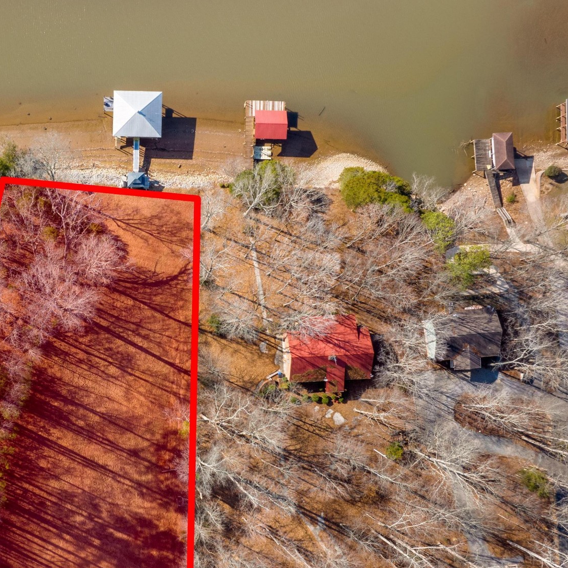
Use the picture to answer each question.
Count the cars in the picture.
0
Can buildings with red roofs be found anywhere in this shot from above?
Yes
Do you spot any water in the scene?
Yes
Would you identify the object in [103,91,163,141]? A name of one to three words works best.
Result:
building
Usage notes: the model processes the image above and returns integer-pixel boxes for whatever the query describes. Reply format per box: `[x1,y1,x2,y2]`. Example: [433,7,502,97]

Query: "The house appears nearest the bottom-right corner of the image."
[428,303,503,370]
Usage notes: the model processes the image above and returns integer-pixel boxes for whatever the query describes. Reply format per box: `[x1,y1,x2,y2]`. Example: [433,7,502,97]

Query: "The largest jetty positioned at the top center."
[243,100,286,169]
